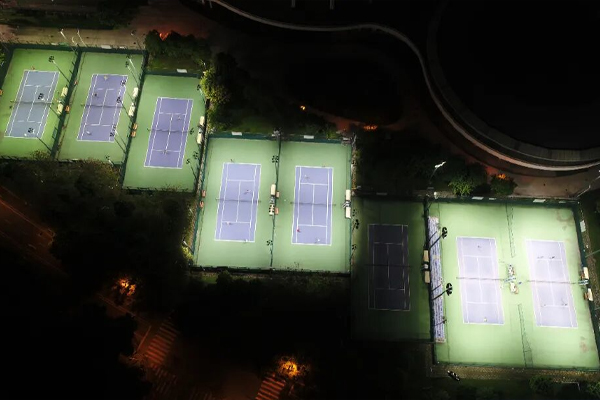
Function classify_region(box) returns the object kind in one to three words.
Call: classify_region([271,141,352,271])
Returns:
tennis court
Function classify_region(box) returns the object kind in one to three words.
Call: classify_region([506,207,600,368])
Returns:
tennis court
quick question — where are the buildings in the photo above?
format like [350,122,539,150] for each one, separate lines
[429,0,600,158]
